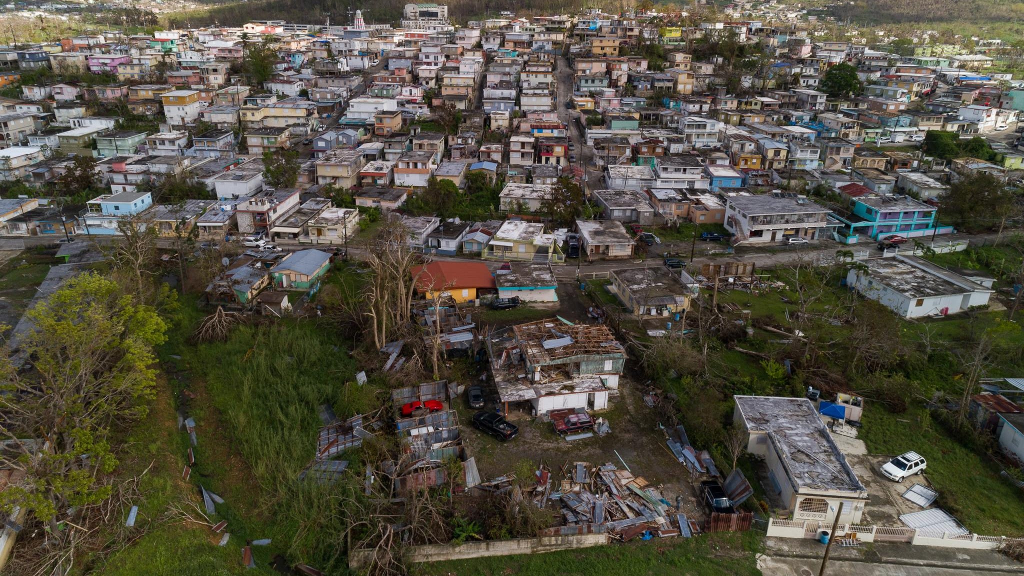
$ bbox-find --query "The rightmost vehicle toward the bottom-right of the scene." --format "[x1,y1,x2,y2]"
[882,452,929,480]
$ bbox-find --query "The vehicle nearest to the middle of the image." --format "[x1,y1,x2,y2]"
[491,295,521,309]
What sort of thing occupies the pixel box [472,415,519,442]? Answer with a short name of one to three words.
truck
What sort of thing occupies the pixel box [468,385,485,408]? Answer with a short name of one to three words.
car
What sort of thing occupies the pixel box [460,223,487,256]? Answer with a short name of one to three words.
house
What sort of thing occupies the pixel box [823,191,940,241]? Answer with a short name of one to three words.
house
